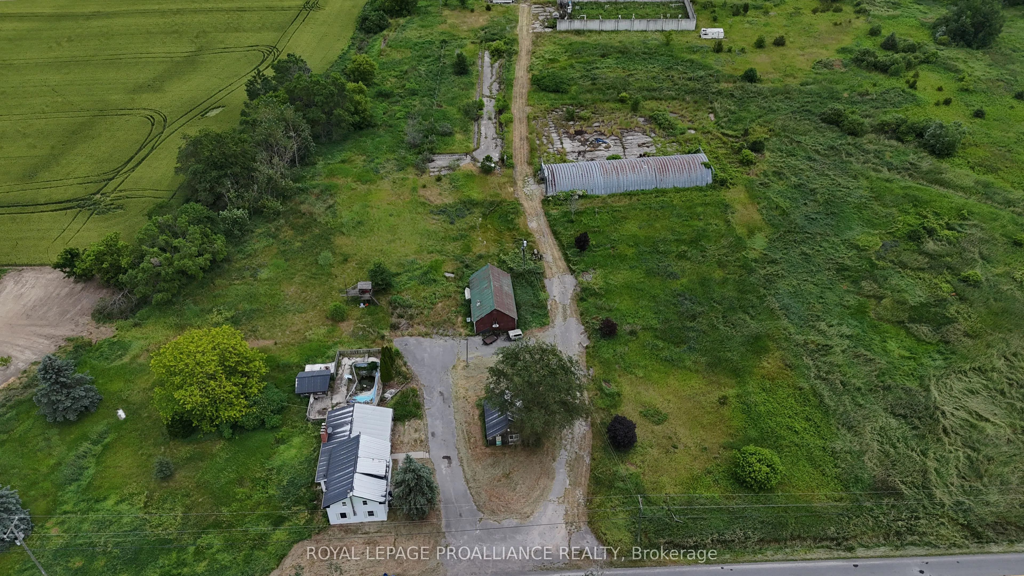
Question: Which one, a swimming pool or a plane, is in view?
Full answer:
It is a swimming pool that can be seen here.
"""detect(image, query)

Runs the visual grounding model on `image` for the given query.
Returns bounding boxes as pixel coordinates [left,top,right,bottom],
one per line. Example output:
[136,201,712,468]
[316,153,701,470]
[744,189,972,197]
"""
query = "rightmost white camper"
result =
[699,26,726,38]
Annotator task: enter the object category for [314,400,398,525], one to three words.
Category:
house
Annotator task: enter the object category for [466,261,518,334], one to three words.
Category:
barn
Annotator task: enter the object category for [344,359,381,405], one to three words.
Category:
swimming pool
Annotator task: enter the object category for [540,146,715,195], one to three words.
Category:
shed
